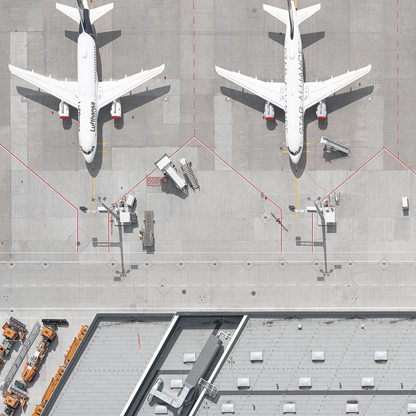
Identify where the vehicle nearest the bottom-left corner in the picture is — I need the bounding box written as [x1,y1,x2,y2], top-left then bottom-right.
[0,386,28,416]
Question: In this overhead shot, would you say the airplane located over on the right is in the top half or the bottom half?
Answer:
top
